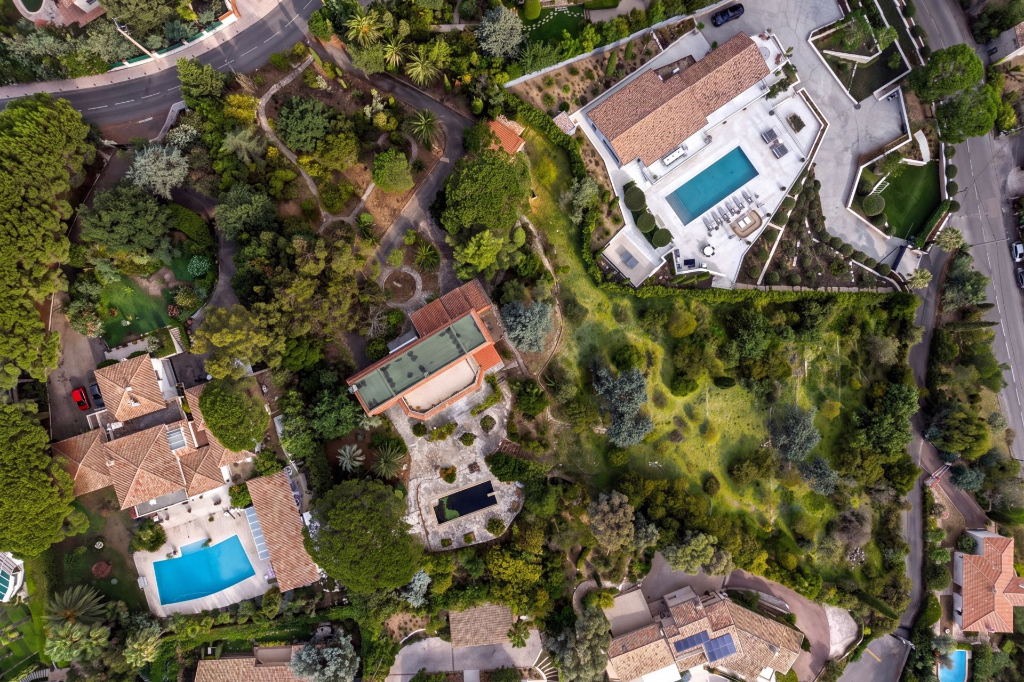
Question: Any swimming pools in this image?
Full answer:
Yes, a swimming pool is visible in the scene.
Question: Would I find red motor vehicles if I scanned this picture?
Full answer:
Yes, a red motor vehicle can be made out from above.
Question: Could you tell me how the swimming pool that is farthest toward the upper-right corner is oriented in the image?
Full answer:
What the image shows is the swimming pool that is farthest toward the upper-right corner lying at an angle.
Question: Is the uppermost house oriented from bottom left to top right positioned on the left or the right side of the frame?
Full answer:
The uppermost house oriented from bottom left to top right sits on the right side.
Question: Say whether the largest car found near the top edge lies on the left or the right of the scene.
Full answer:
The largest car found near the top edge is on the right side of the image.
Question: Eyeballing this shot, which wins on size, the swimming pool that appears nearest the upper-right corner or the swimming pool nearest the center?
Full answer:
The swimming pool that appears nearest the upper-right corner covers a greater area than the swimming pool nearest the center.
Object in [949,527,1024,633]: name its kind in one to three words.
house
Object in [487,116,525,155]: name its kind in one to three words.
shed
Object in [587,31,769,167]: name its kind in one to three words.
house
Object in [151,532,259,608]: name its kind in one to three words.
swimming pool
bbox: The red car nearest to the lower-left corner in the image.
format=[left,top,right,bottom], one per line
[72,386,92,411]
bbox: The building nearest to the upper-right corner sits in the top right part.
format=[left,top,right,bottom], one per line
[987,21,1024,69]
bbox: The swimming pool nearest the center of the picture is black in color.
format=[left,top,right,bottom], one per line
[431,478,501,527]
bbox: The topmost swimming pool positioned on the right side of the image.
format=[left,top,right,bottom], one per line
[661,141,763,230]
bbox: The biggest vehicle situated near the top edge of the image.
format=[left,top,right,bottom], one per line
[710,3,745,27]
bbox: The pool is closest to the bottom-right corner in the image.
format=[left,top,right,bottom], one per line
[938,648,968,682]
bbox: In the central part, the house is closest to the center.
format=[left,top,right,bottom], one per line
[347,278,505,420]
